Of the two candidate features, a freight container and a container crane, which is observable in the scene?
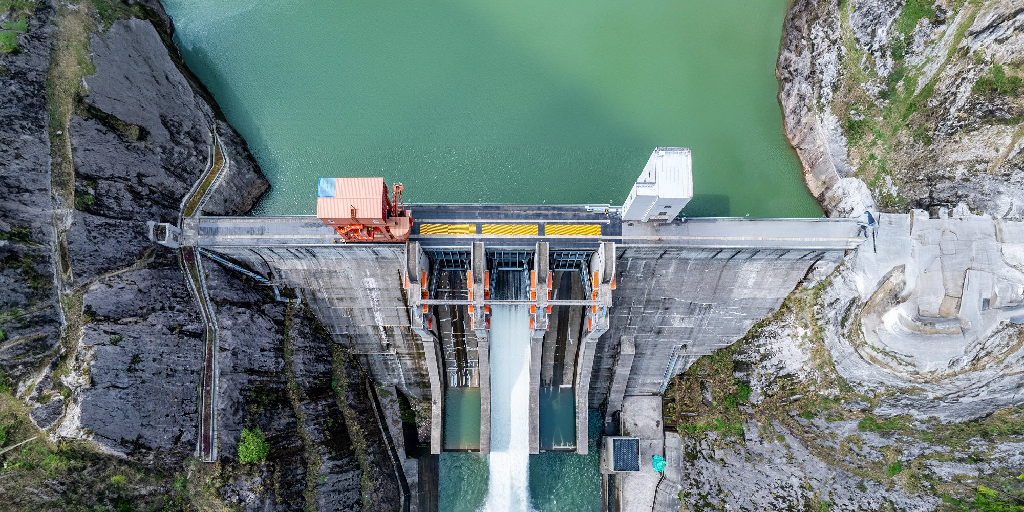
container crane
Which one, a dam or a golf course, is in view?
dam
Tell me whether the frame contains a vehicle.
No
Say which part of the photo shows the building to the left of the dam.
left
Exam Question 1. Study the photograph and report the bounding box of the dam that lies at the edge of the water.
[187,203,886,454]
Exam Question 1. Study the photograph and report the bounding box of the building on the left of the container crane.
[137,215,190,245]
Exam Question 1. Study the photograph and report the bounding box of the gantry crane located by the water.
[317,176,419,245]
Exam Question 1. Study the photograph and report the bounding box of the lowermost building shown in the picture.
[598,434,640,474]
